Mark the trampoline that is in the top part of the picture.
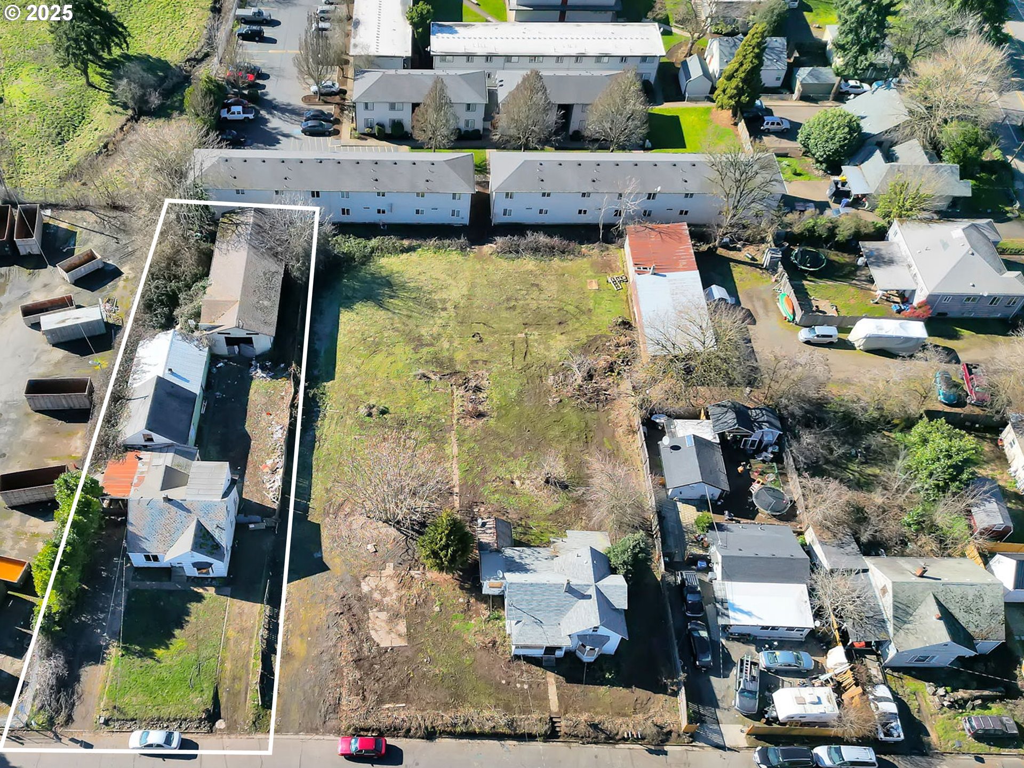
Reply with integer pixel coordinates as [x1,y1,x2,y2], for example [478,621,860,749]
[793,243,831,276]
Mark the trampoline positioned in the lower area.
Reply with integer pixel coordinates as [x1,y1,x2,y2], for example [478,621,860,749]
[756,490,793,520]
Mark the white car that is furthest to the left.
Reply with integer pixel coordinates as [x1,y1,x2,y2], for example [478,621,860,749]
[126,731,182,757]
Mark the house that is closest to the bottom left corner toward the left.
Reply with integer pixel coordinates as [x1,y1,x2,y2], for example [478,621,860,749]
[107,449,253,585]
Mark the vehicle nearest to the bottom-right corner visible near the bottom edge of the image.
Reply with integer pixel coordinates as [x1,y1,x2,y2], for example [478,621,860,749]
[961,719,1024,746]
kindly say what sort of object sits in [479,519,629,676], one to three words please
house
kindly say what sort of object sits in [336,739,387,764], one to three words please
car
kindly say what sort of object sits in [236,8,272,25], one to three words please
vehicle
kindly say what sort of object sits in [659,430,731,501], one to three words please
building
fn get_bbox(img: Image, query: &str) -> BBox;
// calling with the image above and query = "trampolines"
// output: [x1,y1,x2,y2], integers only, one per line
[793,243,831,276]
[756,490,793,520]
